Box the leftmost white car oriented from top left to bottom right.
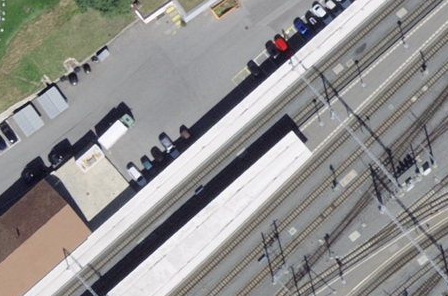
[126,163,146,186]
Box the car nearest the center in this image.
[178,126,194,144]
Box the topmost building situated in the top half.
[38,86,68,118]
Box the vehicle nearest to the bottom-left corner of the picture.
[20,158,44,180]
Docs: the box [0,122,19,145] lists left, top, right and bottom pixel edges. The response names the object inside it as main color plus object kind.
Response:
black car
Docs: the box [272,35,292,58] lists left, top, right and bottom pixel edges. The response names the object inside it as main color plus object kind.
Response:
red car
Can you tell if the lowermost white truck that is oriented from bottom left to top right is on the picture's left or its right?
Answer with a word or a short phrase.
left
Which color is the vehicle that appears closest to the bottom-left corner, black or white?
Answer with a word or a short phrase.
black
